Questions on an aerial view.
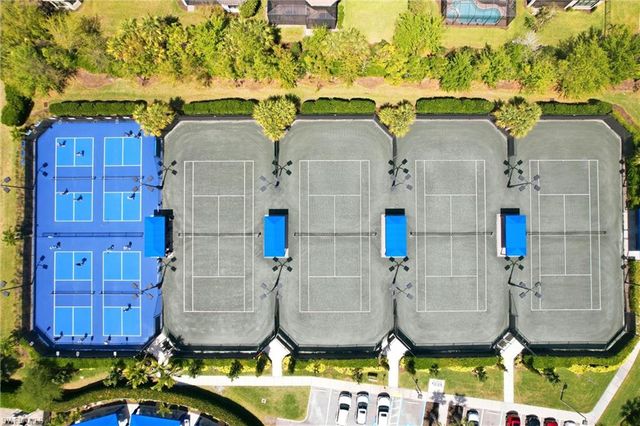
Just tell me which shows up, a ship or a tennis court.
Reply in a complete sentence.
I can see a tennis court in this picture.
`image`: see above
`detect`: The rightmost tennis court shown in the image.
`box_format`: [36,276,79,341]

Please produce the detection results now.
[509,121,625,349]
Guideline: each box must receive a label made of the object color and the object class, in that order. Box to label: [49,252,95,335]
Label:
blue sports court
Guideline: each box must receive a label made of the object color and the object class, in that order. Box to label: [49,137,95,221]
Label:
blue sports court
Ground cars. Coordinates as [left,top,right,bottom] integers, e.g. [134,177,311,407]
[544,420,558,426]
[356,394,371,426]
[376,395,392,426]
[506,414,522,426]
[337,394,352,426]
[526,418,540,426]
[466,412,482,426]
